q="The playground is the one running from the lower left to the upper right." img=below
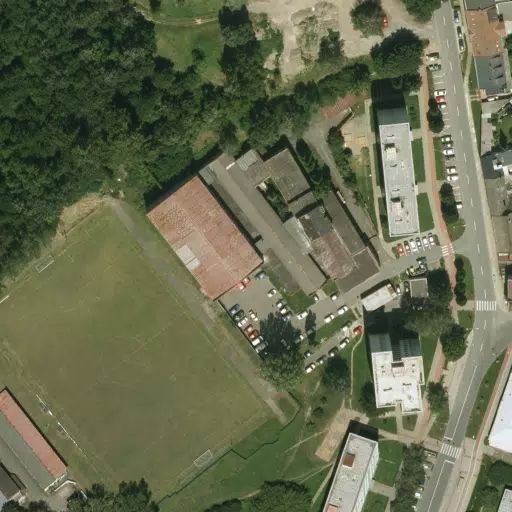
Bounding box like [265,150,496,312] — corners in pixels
[314,406,368,462]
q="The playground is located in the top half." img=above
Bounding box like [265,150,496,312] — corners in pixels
[340,100,372,160]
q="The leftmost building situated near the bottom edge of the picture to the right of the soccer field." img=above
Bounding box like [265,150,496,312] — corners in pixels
[316,422,380,512]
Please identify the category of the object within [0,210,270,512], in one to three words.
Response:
soccer field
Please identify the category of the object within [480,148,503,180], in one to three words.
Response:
house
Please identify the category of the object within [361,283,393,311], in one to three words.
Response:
building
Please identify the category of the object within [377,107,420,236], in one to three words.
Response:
building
